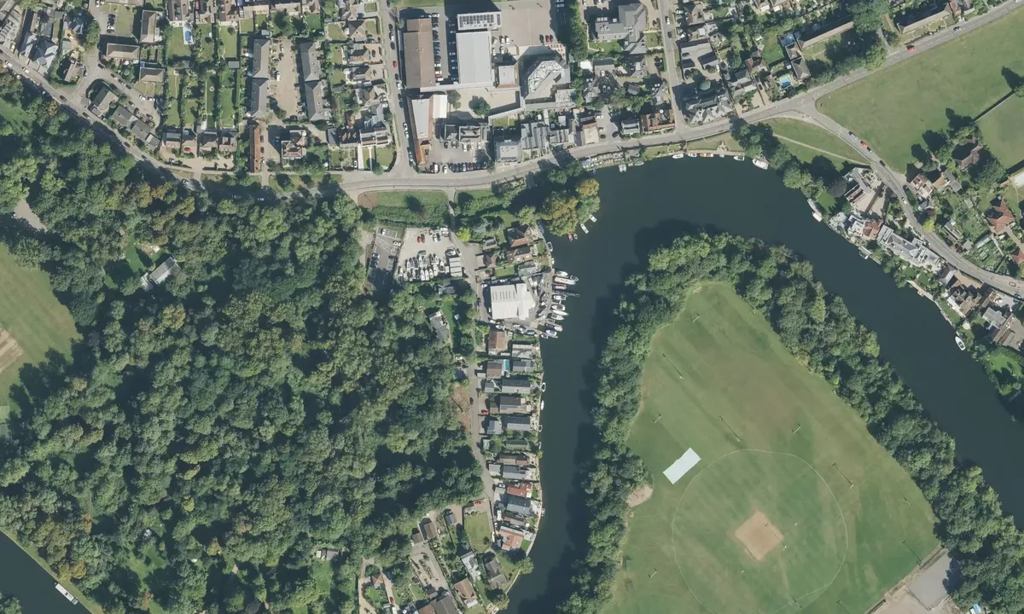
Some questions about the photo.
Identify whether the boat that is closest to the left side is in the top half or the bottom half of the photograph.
bottom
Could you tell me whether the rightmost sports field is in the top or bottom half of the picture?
bottom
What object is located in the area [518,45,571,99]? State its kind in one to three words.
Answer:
building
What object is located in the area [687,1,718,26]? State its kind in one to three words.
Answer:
house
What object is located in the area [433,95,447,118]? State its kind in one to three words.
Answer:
building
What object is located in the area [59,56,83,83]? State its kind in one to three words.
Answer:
house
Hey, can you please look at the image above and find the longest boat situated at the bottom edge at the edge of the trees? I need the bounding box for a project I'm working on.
[55,583,78,604]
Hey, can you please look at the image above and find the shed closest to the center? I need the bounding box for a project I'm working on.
[490,283,534,320]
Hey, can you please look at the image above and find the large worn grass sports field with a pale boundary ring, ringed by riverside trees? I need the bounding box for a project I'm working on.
[603,282,941,614]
